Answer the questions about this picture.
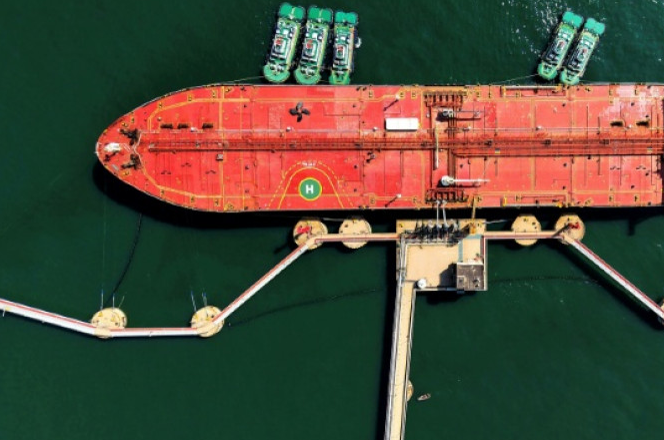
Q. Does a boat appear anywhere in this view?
Yes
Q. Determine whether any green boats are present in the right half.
Yes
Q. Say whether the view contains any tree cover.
No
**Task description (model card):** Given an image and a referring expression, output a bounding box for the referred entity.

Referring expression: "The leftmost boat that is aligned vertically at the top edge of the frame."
[266,1,307,84]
